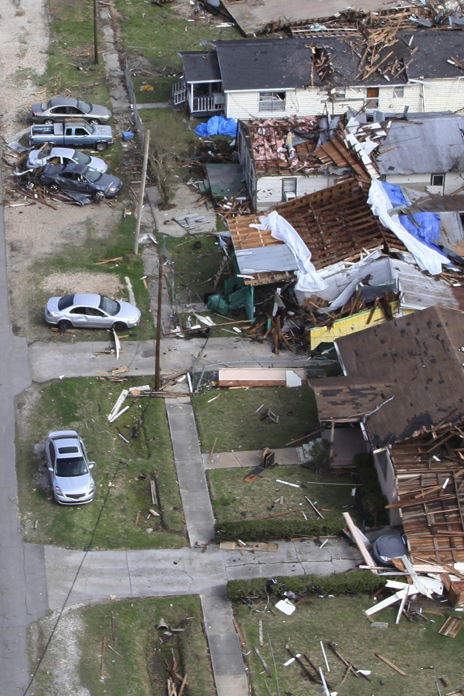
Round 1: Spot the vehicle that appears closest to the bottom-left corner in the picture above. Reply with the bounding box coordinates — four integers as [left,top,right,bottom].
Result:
[45,435,96,504]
